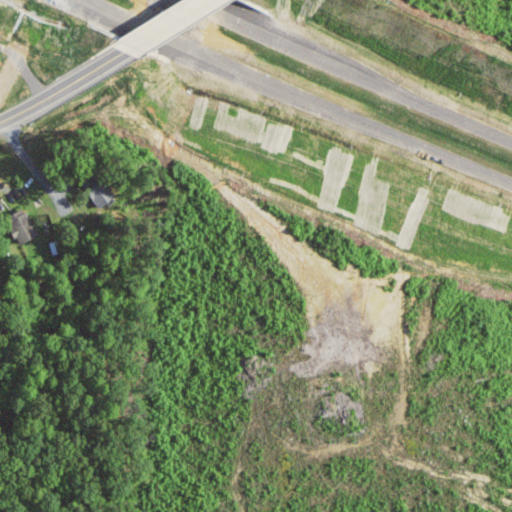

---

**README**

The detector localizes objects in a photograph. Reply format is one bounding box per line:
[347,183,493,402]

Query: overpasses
[83,0,273,66]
